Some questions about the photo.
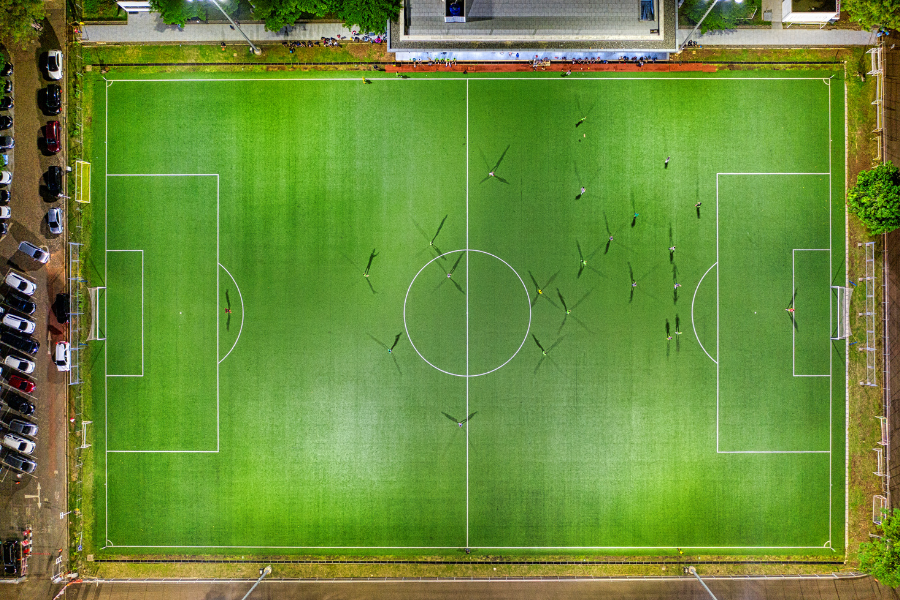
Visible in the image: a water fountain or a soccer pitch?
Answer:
soccer pitch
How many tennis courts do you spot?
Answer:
zero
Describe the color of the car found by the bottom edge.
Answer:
black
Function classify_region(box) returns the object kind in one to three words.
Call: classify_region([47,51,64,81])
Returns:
car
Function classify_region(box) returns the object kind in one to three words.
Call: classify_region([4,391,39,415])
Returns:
car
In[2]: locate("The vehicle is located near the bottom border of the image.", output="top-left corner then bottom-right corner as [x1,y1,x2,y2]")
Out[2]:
[0,539,20,575]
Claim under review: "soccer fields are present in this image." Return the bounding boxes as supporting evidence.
[92,72,846,555]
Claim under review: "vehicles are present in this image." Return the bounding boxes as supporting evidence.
[0,77,14,94]
[53,293,72,324]
[0,222,10,235]
[0,539,20,575]
[47,208,64,235]
[0,330,40,356]
[5,451,40,474]
[0,205,13,220]
[8,372,39,394]
[0,380,6,394]
[4,352,37,375]
[2,312,38,336]
[5,272,39,295]
[4,391,39,415]
[54,341,72,371]
[18,241,50,264]
[0,95,16,111]
[45,83,63,115]
[0,154,10,167]
[0,63,15,78]
[0,170,14,185]
[47,51,64,81]
[45,121,63,153]
[0,114,15,131]
[46,165,64,197]
[4,432,39,456]
[8,416,40,437]
[0,134,16,150]
[5,293,39,315]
